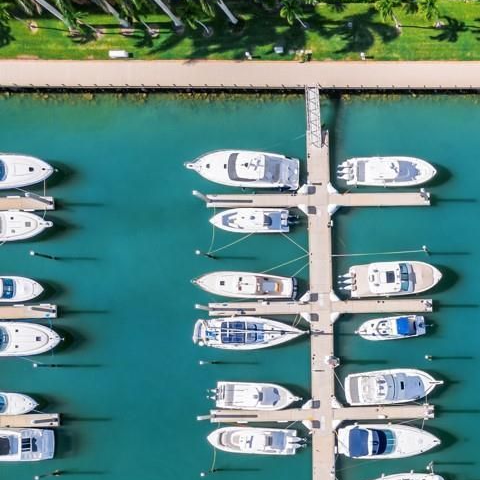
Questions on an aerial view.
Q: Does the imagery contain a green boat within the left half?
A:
No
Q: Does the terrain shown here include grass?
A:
Yes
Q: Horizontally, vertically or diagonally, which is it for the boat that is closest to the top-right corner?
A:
horizontally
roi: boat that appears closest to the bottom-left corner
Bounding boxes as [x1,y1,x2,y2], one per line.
[0,429,56,461]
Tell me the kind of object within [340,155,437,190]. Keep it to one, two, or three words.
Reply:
boat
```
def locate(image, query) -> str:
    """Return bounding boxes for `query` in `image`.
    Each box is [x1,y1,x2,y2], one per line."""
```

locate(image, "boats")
[344,368,445,406]
[210,382,302,411]
[0,392,42,416]
[0,276,44,303]
[0,320,66,357]
[183,150,301,191]
[0,429,56,461]
[340,155,437,190]
[340,261,442,300]
[208,426,306,455]
[190,271,299,299]
[0,210,56,242]
[210,207,296,234]
[354,315,432,341]
[338,422,443,458]
[0,153,59,190]
[194,316,309,351]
